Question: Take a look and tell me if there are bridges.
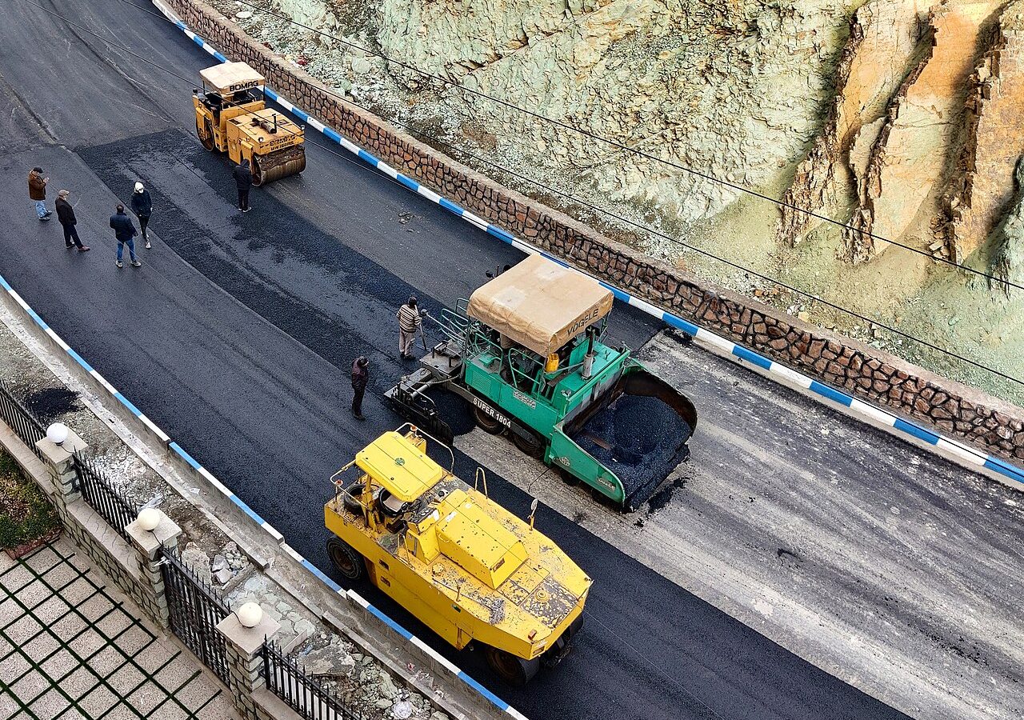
No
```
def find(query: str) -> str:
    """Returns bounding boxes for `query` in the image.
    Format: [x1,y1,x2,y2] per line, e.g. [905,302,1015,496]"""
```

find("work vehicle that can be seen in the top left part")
[193,65,305,188]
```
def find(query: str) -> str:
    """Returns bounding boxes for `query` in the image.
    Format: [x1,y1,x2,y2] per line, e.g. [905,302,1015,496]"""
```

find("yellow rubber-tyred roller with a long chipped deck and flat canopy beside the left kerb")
[323,421,596,687]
